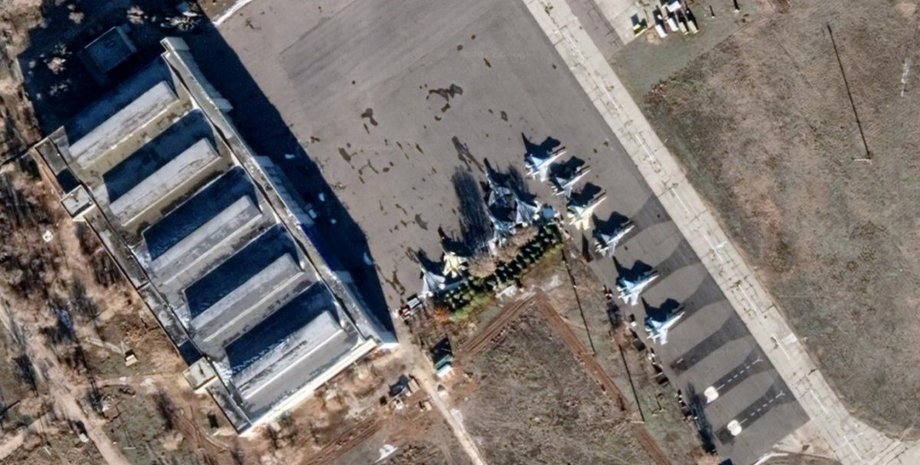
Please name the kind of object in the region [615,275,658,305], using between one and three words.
airplane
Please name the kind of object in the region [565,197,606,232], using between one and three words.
airplane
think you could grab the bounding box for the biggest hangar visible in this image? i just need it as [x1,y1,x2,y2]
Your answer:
[35,38,396,433]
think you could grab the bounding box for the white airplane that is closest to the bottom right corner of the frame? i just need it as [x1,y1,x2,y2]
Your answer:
[641,313,683,347]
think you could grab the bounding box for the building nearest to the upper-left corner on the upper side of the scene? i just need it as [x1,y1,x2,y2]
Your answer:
[84,27,139,73]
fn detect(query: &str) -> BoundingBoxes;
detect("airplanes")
[524,152,565,183]
[548,170,590,200]
[592,226,633,259]
[411,255,444,298]
[507,182,540,227]
[615,275,658,305]
[565,197,606,232]
[485,170,515,212]
[641,313,683,347]
[441,248,464,283]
